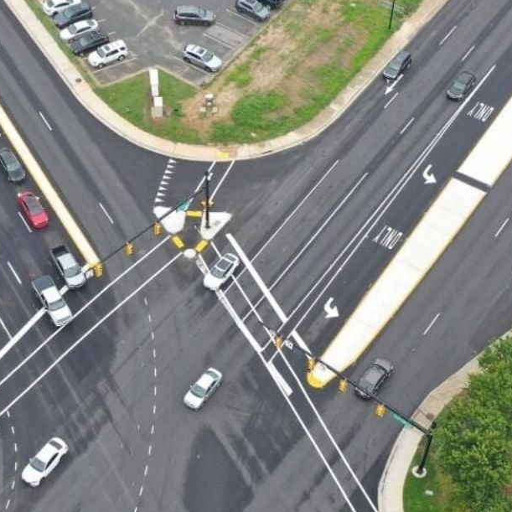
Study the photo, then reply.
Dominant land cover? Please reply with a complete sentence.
Most of the picture is covered by paved ground.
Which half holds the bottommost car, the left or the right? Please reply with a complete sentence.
The bottommost car is on the left side of the image.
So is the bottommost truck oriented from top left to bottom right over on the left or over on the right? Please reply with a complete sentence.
The bottommost truck oriented from top left to bottom right appears in the left half of the scene.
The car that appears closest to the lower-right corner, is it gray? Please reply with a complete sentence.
Yes, gray is the color of the car that appears closest to the lower-right corner.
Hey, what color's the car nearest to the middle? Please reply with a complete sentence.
The car nearest to the middle is white.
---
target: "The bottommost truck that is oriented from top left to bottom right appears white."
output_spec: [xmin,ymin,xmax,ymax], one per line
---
[30,272,74,328]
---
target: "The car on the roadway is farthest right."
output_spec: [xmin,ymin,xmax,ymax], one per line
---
[446,70,477,103]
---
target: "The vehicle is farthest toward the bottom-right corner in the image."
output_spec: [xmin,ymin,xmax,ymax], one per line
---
[353,356,393,403]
